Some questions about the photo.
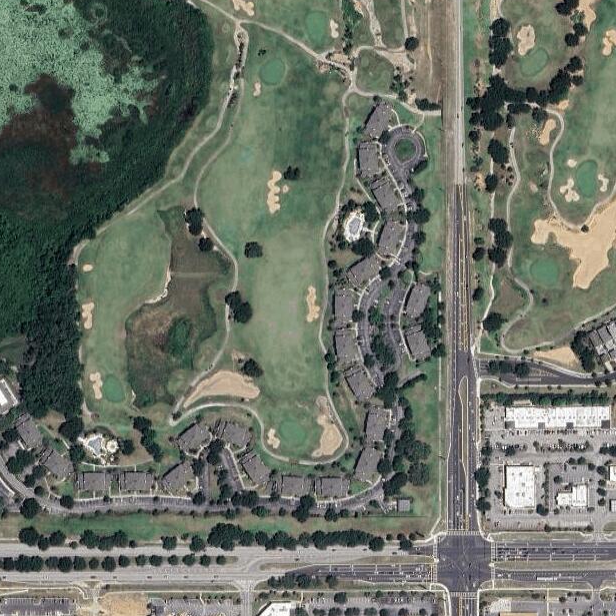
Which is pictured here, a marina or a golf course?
golf course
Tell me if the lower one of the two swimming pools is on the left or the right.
left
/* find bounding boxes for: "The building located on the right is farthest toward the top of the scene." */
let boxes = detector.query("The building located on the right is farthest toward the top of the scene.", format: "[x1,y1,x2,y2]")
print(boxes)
[362,97,395,139]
